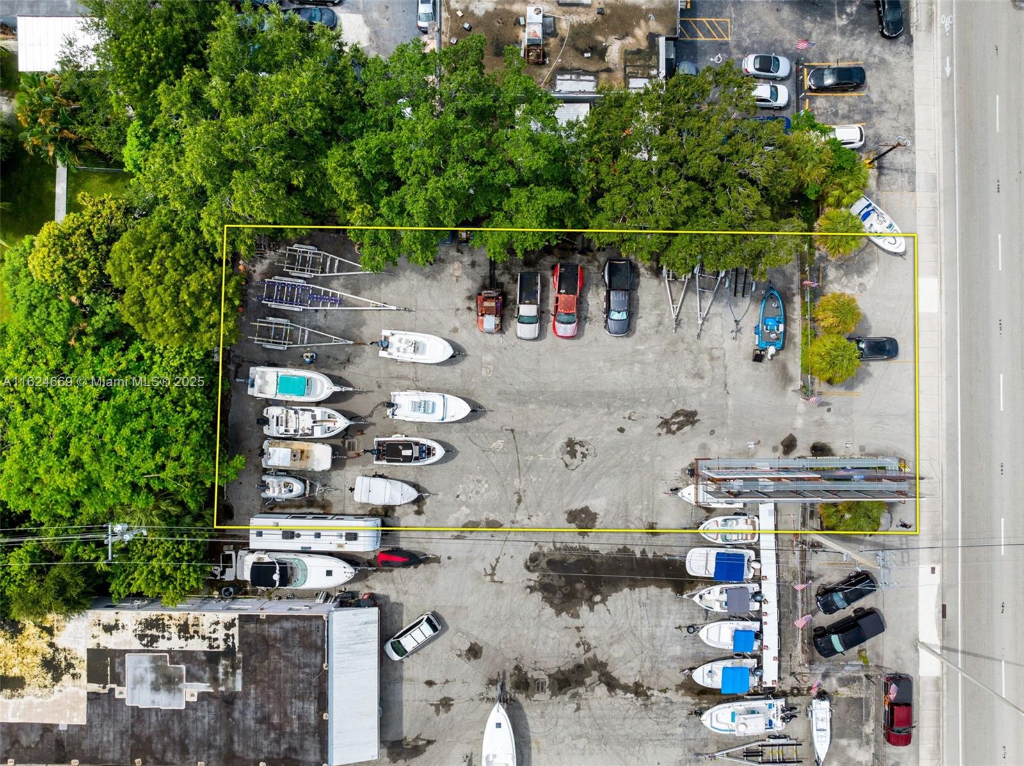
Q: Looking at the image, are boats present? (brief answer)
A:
Yes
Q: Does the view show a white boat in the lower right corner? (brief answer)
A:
Yes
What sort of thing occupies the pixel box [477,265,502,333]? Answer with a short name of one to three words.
work vehicle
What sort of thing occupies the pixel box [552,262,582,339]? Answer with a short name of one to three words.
truck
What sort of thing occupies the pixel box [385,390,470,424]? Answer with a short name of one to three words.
boat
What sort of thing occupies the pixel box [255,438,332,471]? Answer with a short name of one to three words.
boat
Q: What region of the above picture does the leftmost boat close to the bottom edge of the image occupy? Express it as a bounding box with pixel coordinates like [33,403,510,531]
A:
[481,702,516,766]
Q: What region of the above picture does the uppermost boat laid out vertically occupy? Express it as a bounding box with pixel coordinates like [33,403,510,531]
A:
[749,287,784,359]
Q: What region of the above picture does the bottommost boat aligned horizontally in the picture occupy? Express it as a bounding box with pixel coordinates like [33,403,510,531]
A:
[701,693,796,740]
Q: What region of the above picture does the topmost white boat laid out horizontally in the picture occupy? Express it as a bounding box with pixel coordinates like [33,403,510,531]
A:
[369,329,454,363]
